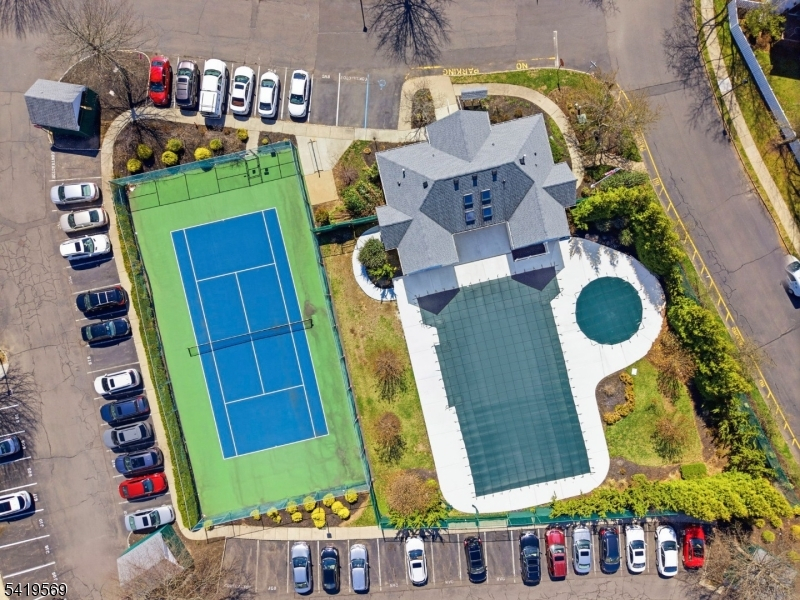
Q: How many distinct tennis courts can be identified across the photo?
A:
1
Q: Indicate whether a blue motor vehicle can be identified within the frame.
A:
Yes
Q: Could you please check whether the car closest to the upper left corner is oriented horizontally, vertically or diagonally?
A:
vertically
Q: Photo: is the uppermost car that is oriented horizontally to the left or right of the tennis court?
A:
on its left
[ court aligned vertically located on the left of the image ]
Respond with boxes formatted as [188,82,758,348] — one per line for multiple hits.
[126,148,367,518]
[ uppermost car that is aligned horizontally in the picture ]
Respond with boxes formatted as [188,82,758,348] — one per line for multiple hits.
[52,180,102,205]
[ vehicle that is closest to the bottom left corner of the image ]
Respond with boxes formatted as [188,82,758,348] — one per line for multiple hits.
[0,491,36,520]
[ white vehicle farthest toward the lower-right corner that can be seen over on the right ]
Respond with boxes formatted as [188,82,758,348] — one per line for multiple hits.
[653,524,680,577]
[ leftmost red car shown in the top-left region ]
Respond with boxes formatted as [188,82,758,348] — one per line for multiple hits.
[147,56,173,105]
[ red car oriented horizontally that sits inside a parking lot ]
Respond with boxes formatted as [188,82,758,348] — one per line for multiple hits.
[117,472,169,499]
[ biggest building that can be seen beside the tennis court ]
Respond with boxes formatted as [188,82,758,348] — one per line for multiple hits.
[375,110,577,275]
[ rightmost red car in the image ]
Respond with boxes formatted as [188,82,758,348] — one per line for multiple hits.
[680,523,706,571]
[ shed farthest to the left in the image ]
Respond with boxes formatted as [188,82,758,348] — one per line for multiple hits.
[24,78,101,138]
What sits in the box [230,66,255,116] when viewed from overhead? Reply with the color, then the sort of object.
white car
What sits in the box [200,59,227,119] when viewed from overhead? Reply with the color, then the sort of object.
white vehicle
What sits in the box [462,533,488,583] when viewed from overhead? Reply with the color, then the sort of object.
black car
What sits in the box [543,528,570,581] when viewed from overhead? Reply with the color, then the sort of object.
red car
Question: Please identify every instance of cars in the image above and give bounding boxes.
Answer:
[462,533,488,583]
[680,523,706,571]
[623,523,648,573]
[52,180,102,205]
[517,530,544,586]
[95,370,142,395]
[80,318,132,343]
[780,255,800,301]
[570,526,595,576]
[287,70,310,119]
[105,421,155,449]
[123,504,176,531]
[230,66,255,116]
[61,209,110,232]
[117,472,169,499]
[76,286,130,312]
[59,233,111,259]
[101,395,152,423]
[318,544,340,593]
[147,56,173,105]
[173,60,200,110]
[0,491,36,520]
[116,448,166,476]
[598,526,623,573]
[257,72,280,120]
[404,534,427,586]
[653,524,680,577]
[289,541,313,594]
[543,528,570,581]
[348,542,370,591]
